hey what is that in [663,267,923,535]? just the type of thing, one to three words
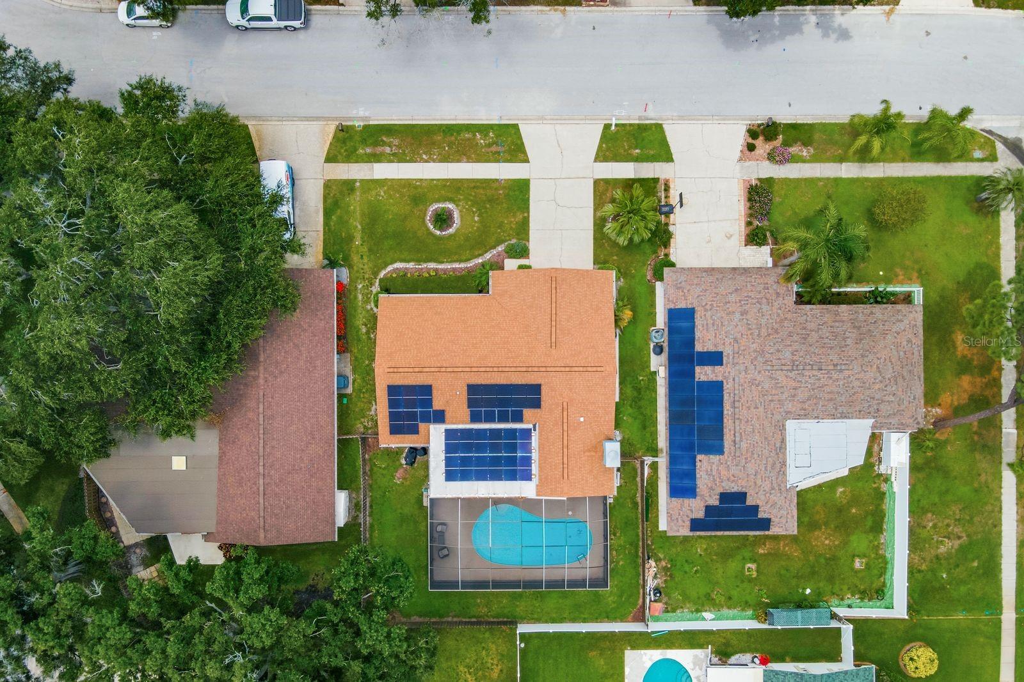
house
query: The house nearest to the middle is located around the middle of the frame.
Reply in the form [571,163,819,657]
[374,257,618,500]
